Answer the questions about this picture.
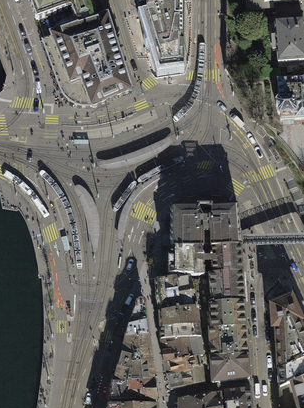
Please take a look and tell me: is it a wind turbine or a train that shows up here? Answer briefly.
train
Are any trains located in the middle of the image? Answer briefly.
Yes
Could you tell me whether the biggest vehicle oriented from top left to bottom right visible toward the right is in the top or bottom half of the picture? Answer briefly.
top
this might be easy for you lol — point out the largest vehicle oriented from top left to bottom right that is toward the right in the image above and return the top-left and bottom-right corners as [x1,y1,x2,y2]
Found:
[230,111,249,133]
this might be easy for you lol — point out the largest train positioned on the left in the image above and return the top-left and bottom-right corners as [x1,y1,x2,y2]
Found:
[40,168,82,268]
